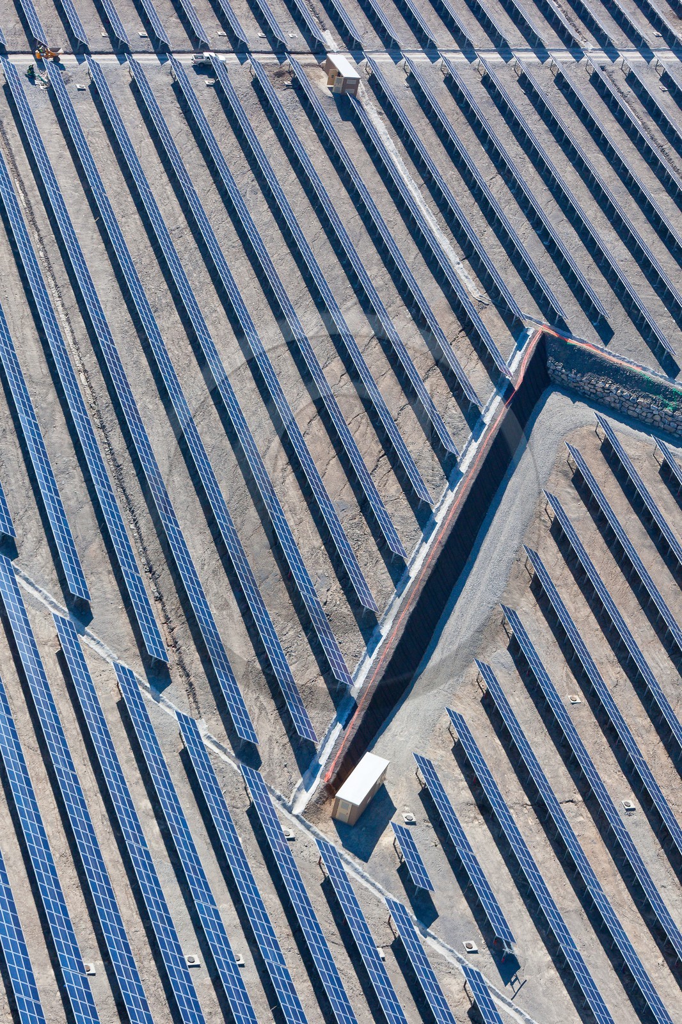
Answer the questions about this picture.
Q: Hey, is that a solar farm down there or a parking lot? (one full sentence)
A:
The picture captures a solar farm.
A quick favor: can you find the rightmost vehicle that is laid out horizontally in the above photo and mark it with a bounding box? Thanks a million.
[191,51,227,67]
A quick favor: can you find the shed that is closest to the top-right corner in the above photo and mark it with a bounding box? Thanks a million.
[331,53,361,94]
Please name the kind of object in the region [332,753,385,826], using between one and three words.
shed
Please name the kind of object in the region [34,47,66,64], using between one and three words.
vehicle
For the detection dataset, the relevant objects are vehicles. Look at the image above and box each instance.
[34,47,66,64]
[191,51,227,67]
